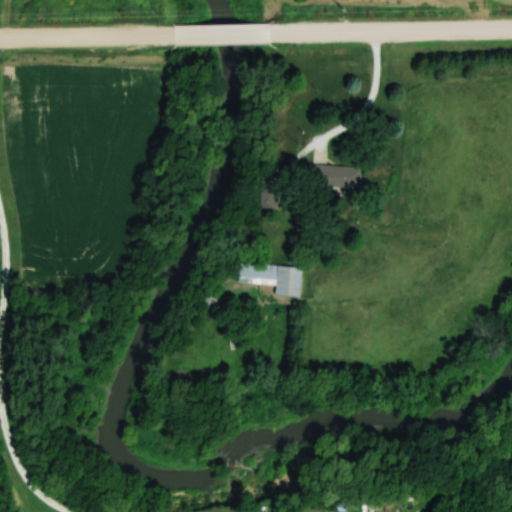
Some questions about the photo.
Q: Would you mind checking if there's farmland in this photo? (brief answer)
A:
Yes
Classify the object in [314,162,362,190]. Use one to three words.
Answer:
house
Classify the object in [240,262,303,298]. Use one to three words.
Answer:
barn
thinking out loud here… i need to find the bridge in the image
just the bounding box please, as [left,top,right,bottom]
[170,22,276,49]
